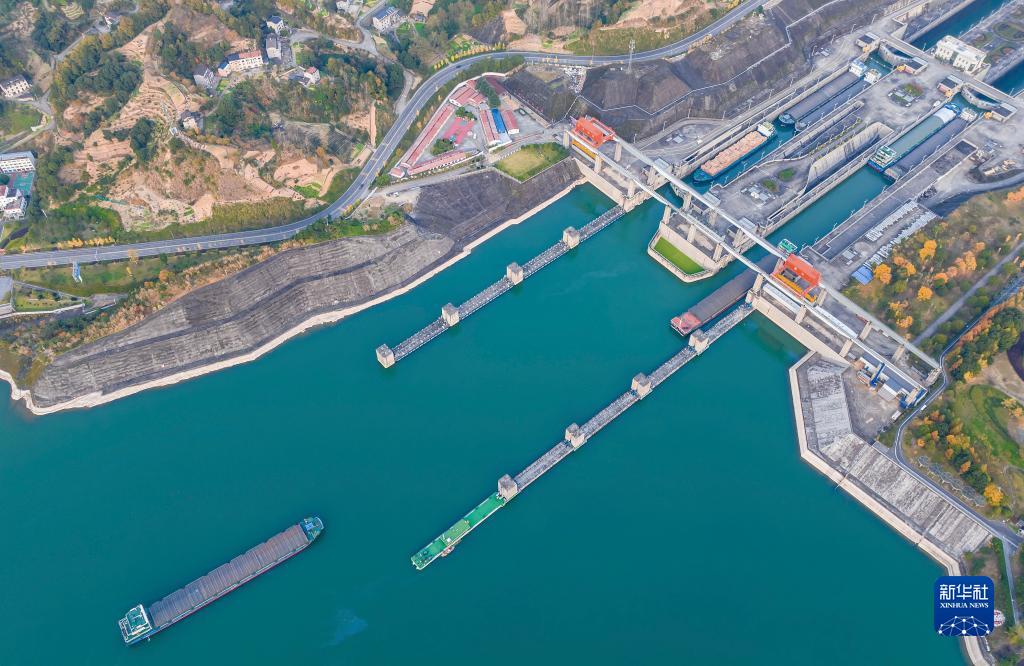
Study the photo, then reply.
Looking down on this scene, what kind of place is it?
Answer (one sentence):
This image shows a port.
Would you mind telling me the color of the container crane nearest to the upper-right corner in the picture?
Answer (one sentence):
The container crane nearest to the upper-right corner is red.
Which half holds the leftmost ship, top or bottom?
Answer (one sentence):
The leftmost ship sits in the bottom half of the picture.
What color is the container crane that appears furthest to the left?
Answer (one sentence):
The container crane that appears furthest to the left looks red in the image.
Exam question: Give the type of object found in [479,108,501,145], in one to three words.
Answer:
building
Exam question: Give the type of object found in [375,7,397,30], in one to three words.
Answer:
house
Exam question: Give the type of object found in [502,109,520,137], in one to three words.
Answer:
building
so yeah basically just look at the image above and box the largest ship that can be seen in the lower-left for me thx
[118,520,322,644]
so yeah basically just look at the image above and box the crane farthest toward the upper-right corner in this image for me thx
[764,249,824,299]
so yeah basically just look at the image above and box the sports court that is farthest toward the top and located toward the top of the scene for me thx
[444,118,475,144]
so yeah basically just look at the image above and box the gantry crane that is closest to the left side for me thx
[566,110,618,159]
